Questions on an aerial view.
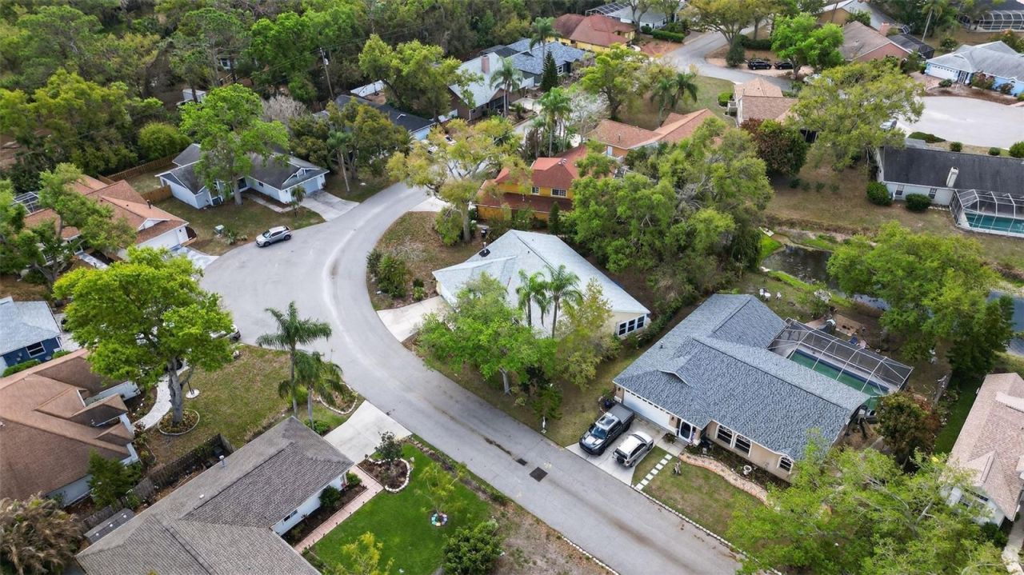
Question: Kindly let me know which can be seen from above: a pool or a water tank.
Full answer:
Of the two, only a pool appears.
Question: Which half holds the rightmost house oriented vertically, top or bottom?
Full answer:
It is in the bottom half that the rightmost house oriented vertically appears.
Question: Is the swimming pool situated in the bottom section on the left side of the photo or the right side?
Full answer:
You can find the swimming pool situated in the bottom section on the right side of the picture.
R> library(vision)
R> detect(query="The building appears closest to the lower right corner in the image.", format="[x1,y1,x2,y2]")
[944,374,1024,552]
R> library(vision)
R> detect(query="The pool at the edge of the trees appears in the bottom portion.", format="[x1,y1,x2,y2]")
[785,343,895,419]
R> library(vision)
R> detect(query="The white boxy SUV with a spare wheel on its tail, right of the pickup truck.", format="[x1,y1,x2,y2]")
[611,421,658,462]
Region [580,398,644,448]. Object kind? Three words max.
truck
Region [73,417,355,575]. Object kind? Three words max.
house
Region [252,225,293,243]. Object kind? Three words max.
car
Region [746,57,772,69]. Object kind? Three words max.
vehicle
